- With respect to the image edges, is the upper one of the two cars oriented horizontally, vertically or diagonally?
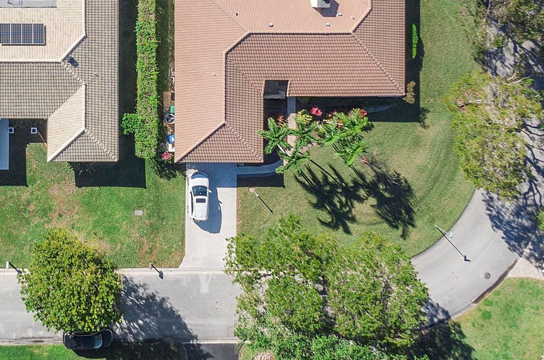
vertically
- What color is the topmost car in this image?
white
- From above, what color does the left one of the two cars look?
black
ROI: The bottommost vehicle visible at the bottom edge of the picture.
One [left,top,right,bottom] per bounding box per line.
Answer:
[62,330,114,359]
